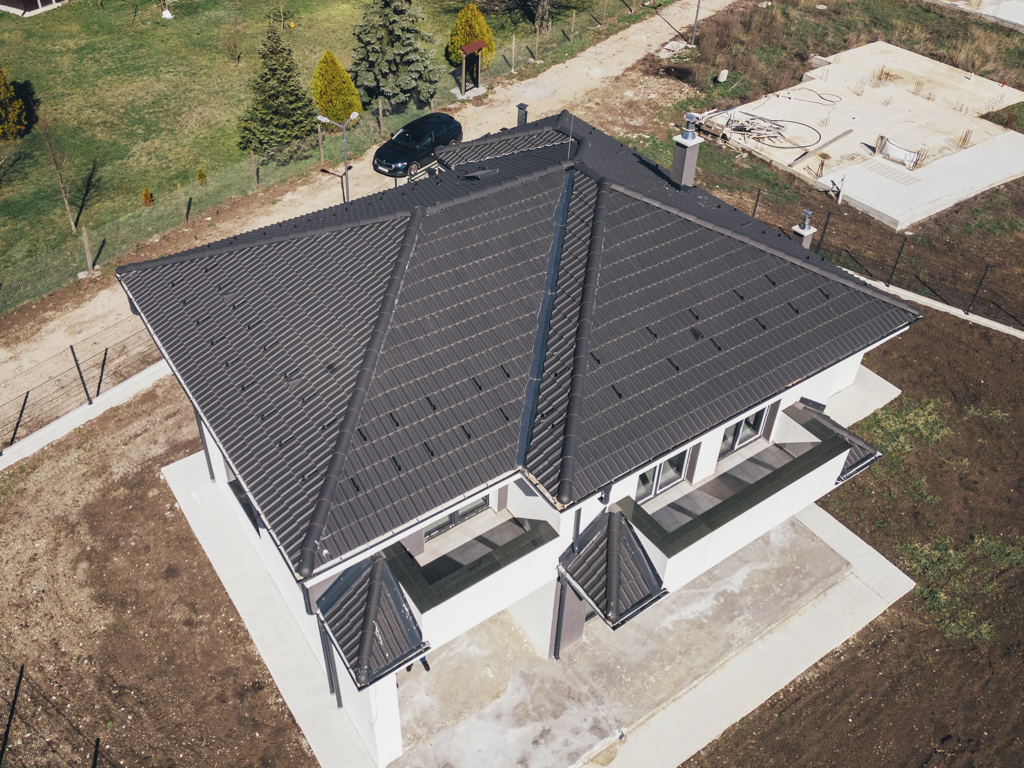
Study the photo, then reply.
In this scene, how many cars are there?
1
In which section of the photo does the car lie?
top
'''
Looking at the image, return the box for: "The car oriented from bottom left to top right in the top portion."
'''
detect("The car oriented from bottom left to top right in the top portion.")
[371,108,466,179]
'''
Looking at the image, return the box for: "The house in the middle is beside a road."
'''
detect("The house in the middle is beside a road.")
[112,84,924,766]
